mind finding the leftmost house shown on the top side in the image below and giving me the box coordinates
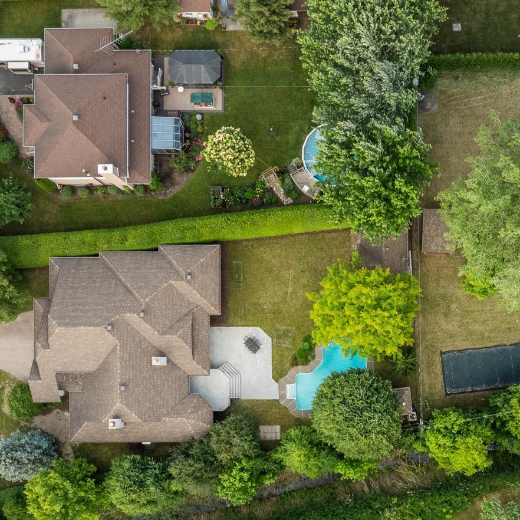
[22,28,156,190]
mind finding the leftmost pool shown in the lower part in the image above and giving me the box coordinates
[279,337,374,418]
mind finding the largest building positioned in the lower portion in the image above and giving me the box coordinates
[28,245,223,445]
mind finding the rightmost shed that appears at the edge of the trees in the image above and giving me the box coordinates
[422,208,454,254]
